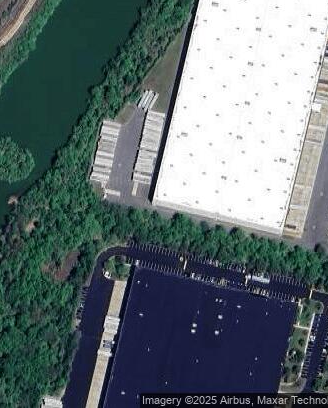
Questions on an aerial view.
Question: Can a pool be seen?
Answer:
No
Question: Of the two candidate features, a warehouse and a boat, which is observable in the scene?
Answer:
warehouse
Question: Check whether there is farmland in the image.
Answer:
No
